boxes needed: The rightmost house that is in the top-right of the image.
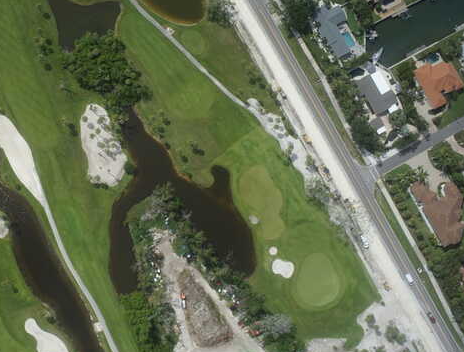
[415,55,464,110]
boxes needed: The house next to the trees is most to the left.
[314,2,355,61]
